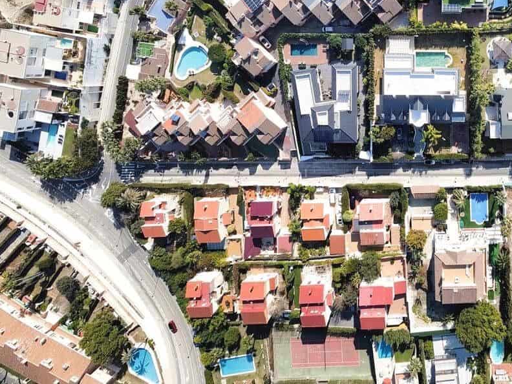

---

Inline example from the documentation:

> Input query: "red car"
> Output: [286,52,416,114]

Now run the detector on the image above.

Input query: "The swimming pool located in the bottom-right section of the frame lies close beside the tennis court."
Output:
[376,338,394,360]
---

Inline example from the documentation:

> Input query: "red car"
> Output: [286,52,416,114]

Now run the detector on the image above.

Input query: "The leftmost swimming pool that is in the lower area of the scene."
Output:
[128,347,160,383]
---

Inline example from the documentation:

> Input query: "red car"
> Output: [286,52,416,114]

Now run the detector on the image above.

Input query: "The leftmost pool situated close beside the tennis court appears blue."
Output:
[218,354,257,378]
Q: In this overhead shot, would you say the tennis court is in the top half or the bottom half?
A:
bottom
